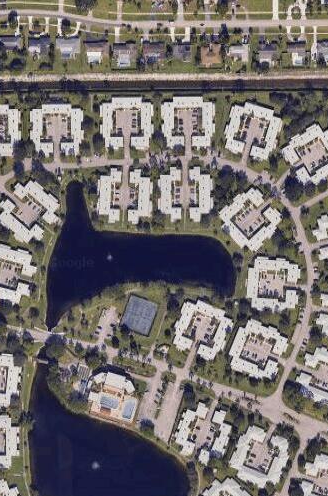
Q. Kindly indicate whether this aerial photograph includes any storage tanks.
No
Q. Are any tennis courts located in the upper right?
No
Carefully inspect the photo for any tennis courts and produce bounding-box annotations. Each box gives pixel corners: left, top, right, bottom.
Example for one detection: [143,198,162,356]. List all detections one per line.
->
[121,295,157,336]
